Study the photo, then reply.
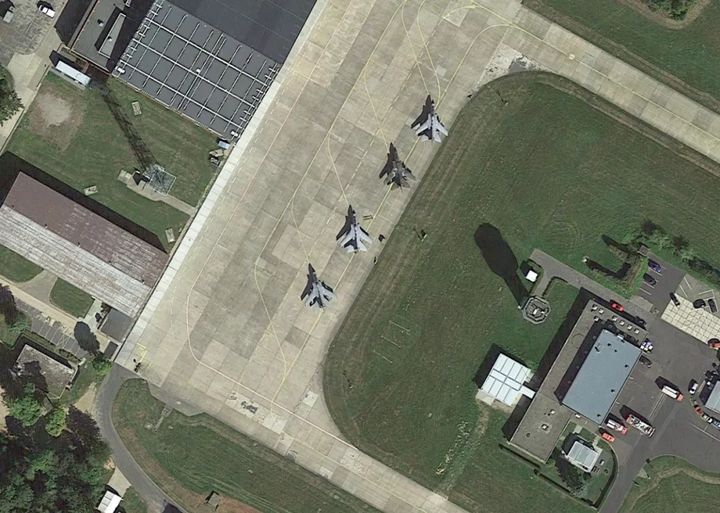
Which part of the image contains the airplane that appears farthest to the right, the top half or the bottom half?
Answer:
top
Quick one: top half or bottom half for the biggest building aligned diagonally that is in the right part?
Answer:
bottom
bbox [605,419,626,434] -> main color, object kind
white vehicle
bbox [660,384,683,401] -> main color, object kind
white vehicle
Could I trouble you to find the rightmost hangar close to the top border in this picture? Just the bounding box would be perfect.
[112,0,317,145]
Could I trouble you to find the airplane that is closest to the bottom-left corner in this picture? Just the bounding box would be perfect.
[304,268,335,312]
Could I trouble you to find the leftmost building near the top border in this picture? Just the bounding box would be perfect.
[72,0,150,73]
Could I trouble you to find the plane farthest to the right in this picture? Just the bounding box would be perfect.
[418,100,450,143]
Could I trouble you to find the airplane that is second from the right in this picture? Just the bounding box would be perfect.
[382,148,413,192]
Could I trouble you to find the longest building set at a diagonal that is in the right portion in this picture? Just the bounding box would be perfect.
[507,301,650,462]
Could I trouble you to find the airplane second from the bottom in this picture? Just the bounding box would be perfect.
[340,210,371,254]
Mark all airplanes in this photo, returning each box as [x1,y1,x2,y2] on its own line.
[418,100,450,143]
[382,148,413,192]
[304,268,335,312]
[340,210,371,254]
